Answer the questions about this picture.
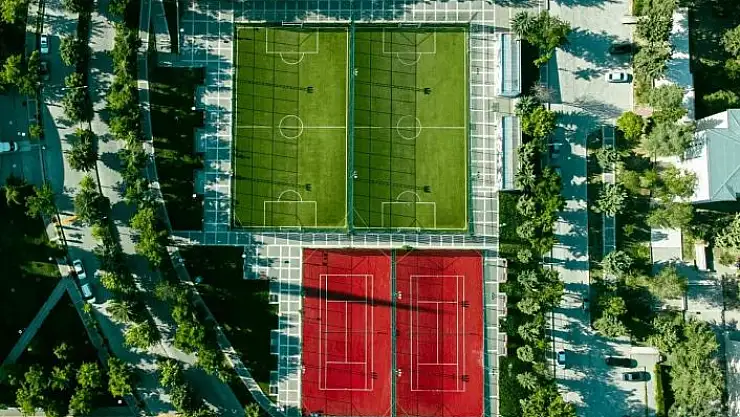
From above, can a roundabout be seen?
No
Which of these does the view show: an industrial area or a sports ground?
sports ground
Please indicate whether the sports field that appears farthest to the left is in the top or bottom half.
top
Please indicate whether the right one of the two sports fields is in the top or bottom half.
top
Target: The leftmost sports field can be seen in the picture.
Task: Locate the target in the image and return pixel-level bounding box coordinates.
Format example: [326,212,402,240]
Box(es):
[233,23,351,231]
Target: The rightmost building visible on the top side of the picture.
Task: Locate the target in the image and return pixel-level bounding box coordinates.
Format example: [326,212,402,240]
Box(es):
[684,108,740,207]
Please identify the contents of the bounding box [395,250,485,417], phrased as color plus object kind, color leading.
red tennis court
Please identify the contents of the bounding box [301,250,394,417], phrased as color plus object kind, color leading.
red tennis court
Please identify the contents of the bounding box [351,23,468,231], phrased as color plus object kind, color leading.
green sports field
